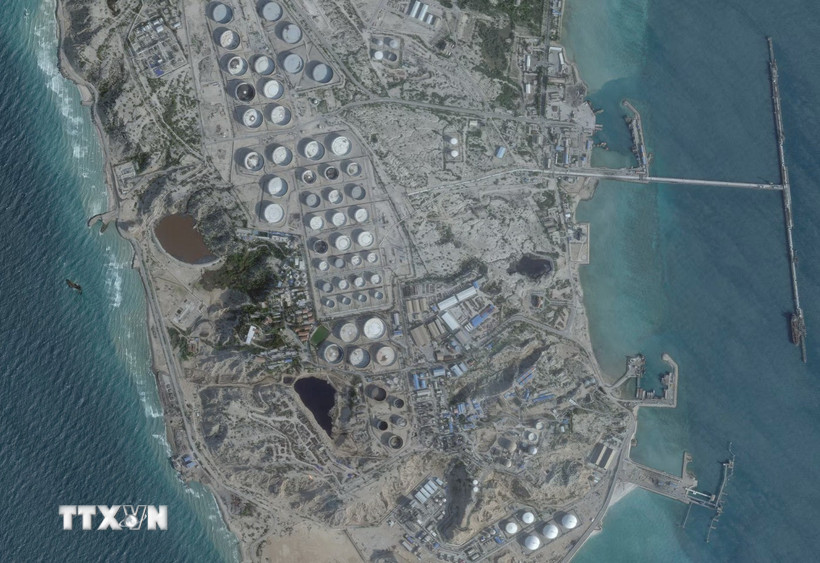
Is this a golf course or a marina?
marina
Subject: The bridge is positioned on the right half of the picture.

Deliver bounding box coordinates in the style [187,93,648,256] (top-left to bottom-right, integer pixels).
[644,177,782,190]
